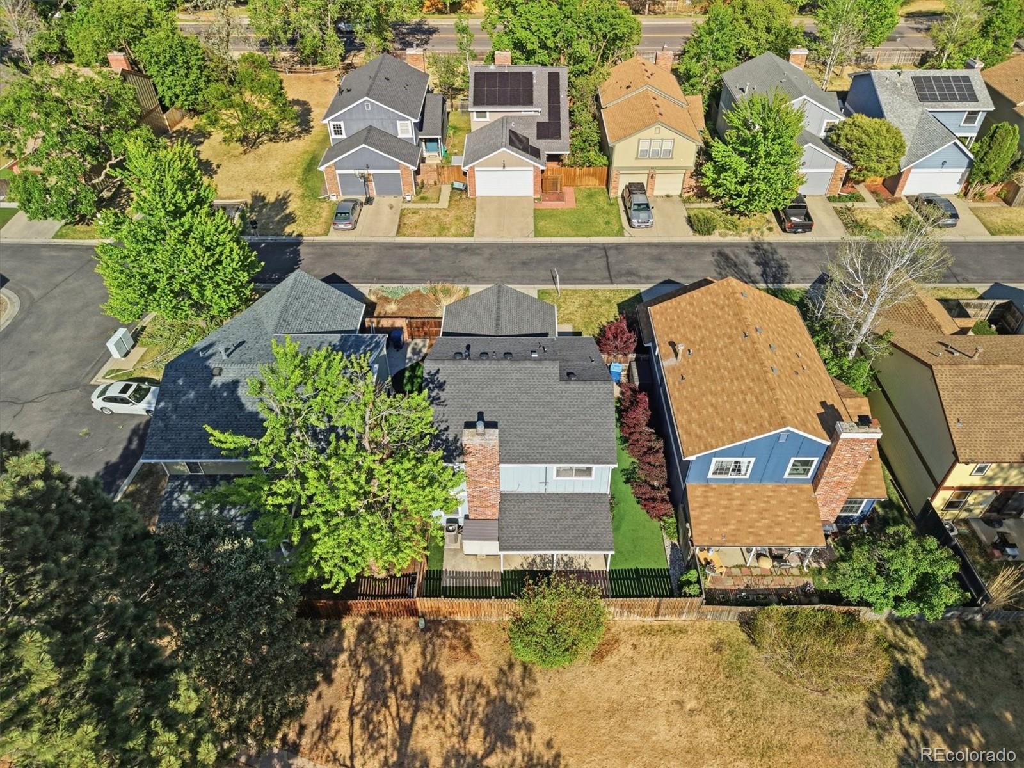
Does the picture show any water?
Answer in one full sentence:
No, there is no water in the image.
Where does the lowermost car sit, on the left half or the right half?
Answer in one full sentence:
It is on the left.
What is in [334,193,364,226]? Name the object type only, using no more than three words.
car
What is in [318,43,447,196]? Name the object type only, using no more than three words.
house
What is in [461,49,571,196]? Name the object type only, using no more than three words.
house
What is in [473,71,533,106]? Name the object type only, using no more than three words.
solar array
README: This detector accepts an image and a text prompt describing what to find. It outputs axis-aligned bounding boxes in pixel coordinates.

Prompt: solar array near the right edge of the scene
[912,75,978,102]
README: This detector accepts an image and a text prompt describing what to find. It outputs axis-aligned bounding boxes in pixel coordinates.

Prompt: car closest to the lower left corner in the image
[86,379,159,415]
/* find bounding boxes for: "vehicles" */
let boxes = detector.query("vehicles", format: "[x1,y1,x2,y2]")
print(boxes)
[86,379,159,415]
[916,188,963,223]
[625,184,655,224]
[334,193,364,226]
[772,188,815,227]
